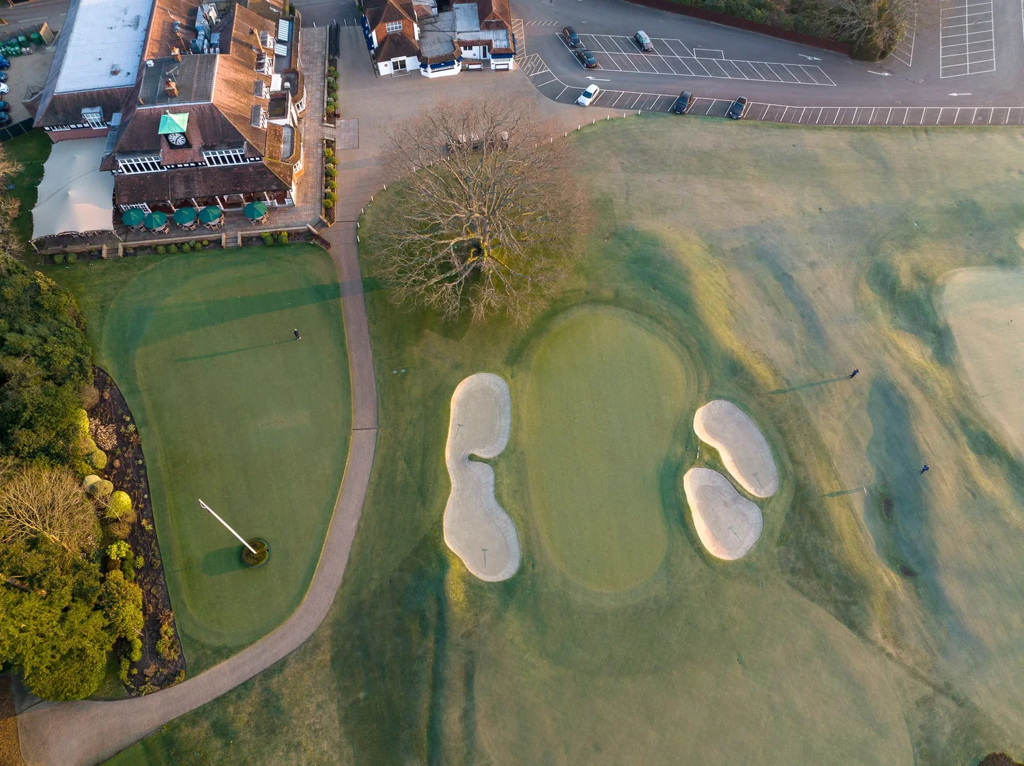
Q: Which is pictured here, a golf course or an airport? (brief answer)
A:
golf course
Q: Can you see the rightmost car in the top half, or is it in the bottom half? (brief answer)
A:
top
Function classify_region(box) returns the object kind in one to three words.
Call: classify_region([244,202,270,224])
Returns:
umbrella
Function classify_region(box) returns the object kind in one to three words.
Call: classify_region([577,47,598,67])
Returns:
car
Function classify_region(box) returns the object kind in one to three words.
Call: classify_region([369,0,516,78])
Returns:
building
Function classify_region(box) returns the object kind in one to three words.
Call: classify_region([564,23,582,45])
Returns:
car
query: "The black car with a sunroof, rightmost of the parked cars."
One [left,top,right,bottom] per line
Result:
[730,94,750,116]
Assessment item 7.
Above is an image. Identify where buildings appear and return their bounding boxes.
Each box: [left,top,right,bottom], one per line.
[369,0,516,78]
[22,0,307,214]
